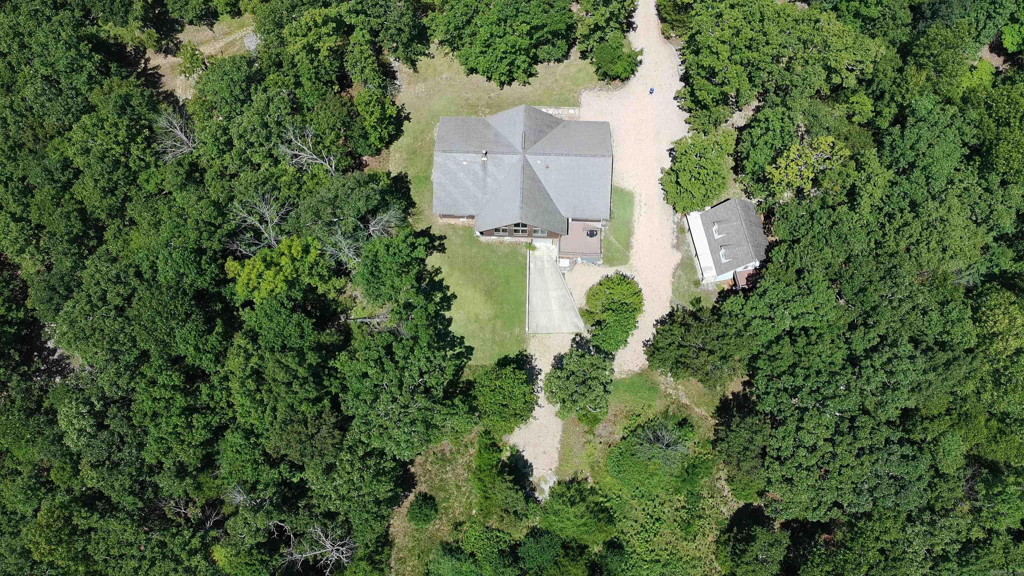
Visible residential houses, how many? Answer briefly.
two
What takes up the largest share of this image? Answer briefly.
trees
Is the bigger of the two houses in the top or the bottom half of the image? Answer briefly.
top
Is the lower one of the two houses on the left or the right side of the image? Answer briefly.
right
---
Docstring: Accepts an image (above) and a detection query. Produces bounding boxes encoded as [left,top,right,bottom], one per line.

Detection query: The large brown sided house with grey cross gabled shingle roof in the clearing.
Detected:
[432,106,613,244]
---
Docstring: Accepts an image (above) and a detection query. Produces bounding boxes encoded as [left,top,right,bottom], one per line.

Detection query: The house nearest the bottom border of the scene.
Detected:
[680,199,777,284]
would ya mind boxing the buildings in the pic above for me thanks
[680,199,777,284]
[432,106,613,244]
